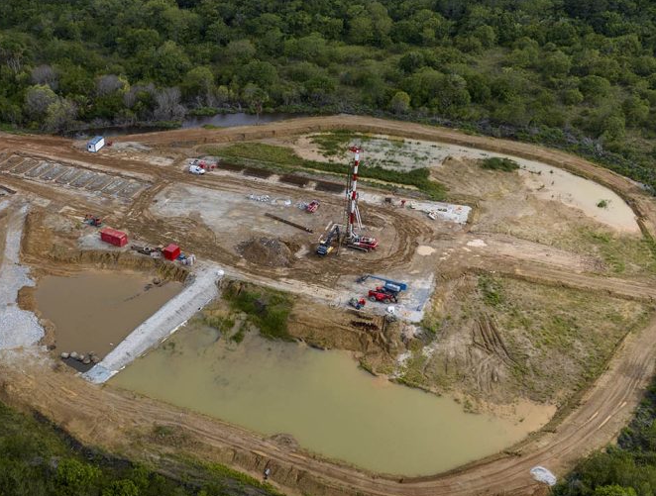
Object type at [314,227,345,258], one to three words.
work vehicle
